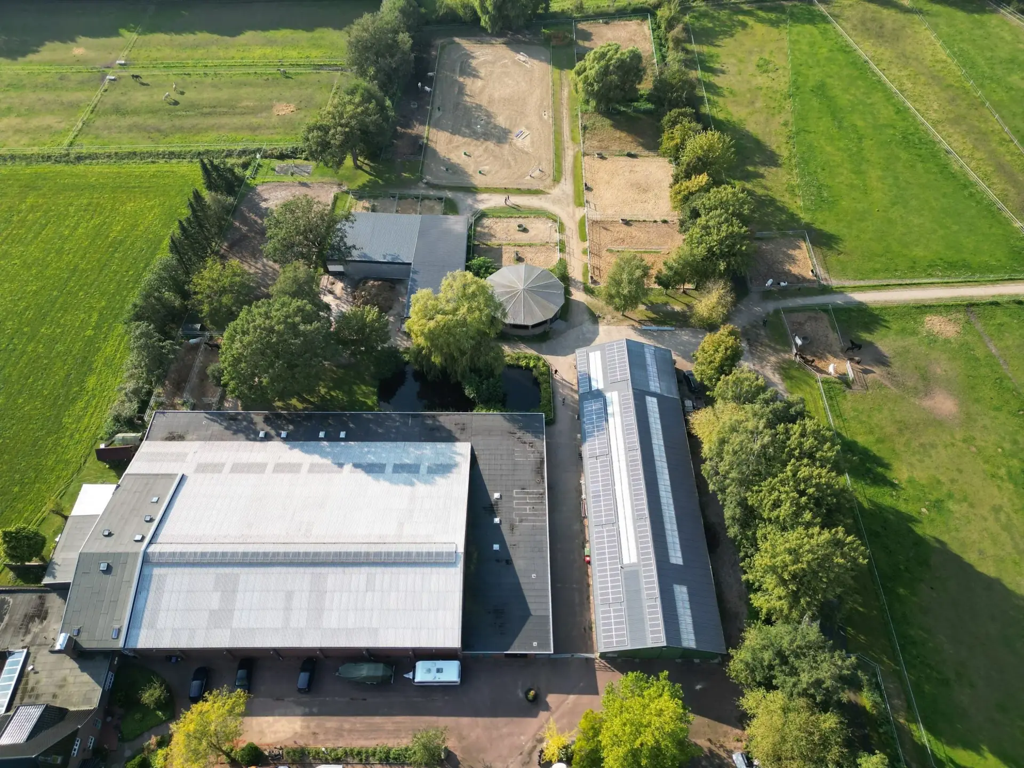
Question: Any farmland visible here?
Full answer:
Yes, there is farmland in the image.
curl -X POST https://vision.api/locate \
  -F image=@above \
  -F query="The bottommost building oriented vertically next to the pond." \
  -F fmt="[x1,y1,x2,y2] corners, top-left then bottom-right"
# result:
[575,339,729,660]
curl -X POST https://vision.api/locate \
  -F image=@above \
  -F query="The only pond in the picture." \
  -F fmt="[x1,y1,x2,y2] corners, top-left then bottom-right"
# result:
[375,361,542,411]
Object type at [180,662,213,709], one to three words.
car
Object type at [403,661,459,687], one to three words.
camper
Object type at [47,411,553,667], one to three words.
building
